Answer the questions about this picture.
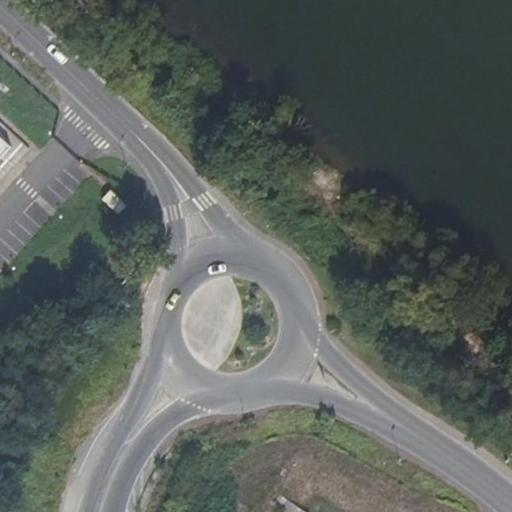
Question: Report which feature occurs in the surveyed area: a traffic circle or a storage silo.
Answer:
traffic circle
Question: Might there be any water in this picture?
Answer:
Yes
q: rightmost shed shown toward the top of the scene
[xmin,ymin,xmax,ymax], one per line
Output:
[101,190,126,215]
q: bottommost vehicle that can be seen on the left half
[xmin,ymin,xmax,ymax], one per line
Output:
[166,292,180,309]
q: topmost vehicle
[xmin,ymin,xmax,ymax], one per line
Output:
[47,44,68,64]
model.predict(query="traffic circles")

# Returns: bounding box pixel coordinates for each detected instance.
[148,230,322,414]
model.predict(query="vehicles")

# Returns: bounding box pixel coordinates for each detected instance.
[166,292,180,309]
[47,44,68,64]
[208,264,226,274]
